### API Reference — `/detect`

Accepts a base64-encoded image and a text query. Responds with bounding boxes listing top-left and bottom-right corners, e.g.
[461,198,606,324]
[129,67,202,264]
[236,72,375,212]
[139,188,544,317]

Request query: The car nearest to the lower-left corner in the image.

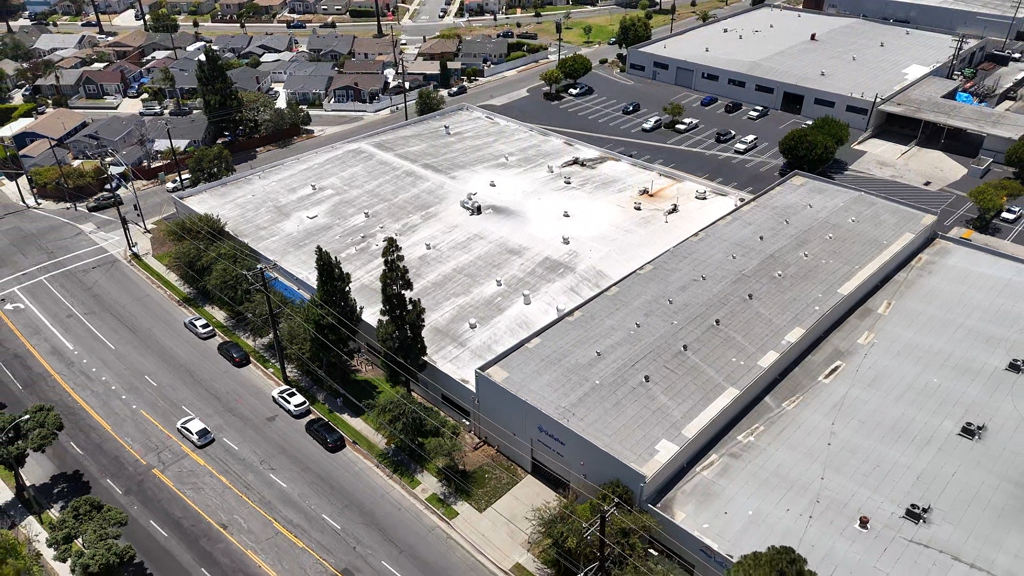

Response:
[178,417,213,450]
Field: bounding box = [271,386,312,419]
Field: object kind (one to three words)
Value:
car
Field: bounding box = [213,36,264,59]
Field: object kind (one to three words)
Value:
house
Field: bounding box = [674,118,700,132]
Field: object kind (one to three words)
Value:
vehicle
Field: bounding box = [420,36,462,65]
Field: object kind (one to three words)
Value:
house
